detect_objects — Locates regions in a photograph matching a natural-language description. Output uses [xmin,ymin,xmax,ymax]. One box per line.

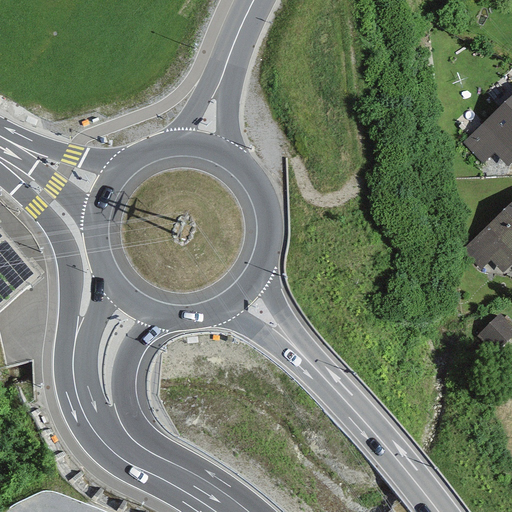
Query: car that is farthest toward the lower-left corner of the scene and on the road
[128,467,149,484]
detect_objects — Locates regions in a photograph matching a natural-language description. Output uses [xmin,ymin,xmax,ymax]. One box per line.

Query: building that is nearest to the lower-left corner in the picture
[0,227,44,310]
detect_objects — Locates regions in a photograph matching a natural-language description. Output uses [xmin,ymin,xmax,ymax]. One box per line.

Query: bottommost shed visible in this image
[478,312,512,348]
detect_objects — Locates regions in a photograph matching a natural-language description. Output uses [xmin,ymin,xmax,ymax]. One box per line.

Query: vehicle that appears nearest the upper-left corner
[96,185,112,209]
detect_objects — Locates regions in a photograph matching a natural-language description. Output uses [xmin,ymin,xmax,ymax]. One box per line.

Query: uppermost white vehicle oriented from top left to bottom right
[282,346,302,367]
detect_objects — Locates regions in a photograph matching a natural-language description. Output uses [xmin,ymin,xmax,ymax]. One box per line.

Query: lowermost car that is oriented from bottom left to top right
[142,324,162,346]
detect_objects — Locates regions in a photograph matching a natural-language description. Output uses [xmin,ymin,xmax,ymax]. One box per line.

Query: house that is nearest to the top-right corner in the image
[464,95,512,170]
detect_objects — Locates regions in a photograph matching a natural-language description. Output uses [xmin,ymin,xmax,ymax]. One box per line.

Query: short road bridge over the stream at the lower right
[338,422,466,512]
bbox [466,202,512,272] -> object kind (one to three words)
house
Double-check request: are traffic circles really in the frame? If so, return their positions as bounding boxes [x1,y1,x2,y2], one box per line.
[80,127,284,332]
